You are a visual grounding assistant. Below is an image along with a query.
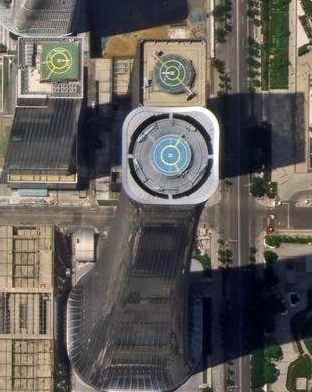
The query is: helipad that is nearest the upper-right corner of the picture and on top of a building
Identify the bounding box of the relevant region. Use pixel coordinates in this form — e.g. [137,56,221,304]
[149,52,190,92]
